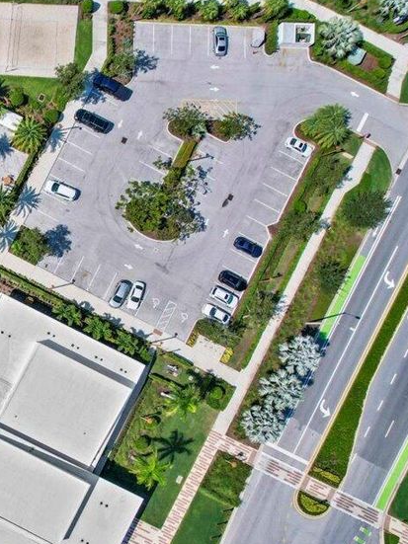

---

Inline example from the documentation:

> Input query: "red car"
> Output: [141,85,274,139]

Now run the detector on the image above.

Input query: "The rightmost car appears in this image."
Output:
[283,135,313,155]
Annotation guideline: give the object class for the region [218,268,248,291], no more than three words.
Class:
car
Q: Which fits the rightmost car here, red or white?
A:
white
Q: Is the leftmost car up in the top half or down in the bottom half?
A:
top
